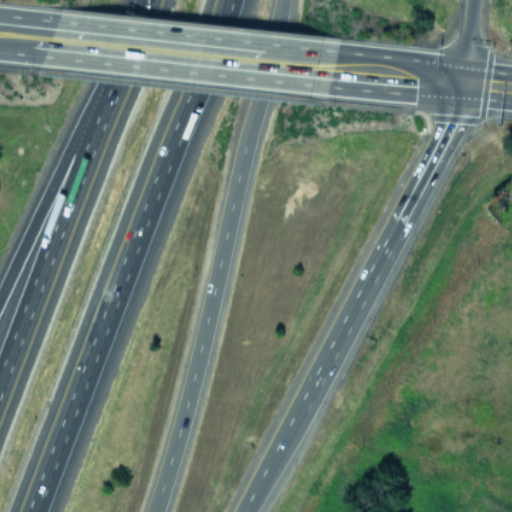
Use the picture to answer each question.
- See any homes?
No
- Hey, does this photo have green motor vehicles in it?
Yes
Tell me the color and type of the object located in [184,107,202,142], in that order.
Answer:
white vehicle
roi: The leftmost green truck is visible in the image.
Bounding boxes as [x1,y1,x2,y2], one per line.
[64,159,90,216]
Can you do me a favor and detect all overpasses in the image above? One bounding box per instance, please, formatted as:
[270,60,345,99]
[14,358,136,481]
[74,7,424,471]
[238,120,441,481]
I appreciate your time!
[40,10,343,104]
